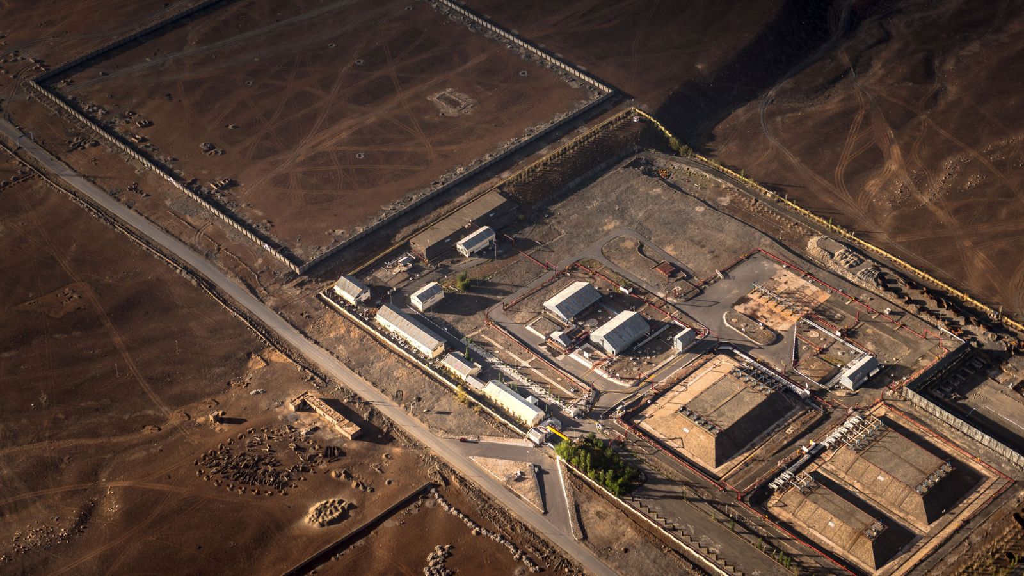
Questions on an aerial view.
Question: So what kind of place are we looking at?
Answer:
industrial area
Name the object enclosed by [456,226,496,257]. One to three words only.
building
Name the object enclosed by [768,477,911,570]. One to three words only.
storage tank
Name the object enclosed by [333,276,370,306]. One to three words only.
building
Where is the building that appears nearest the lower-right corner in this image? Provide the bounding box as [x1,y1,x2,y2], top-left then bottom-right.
[840,355,880,390]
